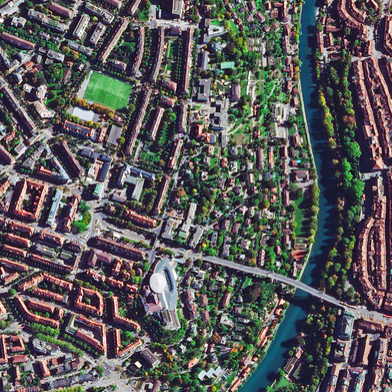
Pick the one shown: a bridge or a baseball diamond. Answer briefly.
bridge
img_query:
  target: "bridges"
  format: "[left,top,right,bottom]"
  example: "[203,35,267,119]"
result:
[194,251,371,317]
